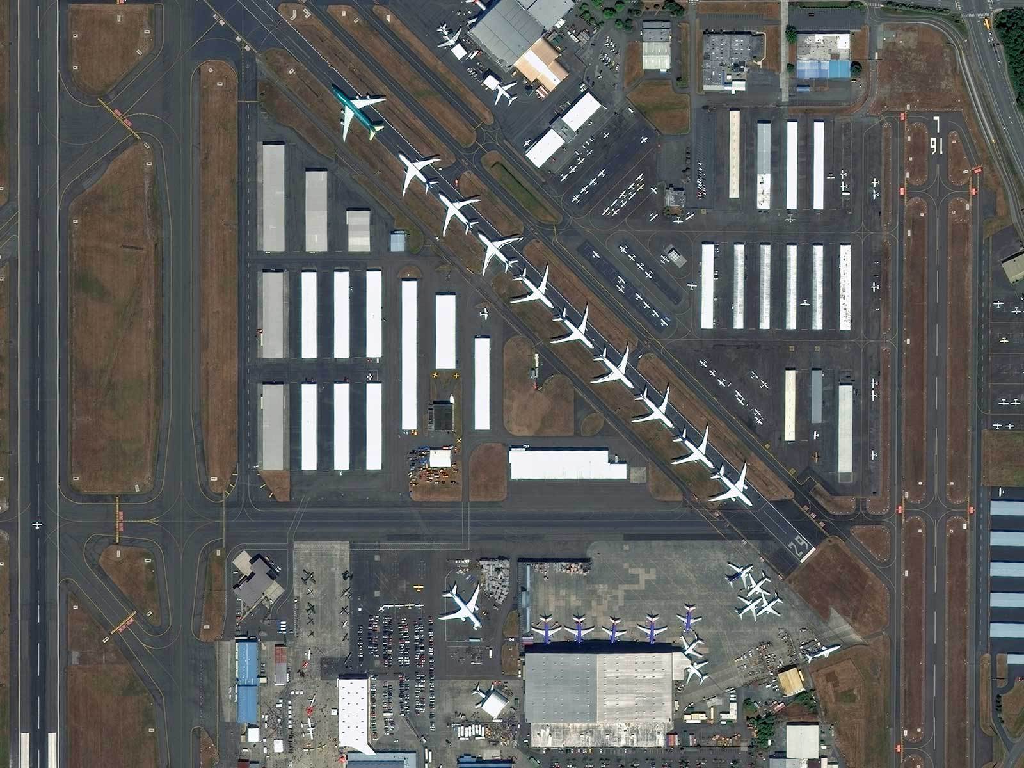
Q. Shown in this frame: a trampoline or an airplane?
airplane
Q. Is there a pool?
No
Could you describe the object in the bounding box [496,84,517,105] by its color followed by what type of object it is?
white airplane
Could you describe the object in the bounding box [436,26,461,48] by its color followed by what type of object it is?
white airplane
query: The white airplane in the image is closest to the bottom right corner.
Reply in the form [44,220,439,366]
[809,646,841,664]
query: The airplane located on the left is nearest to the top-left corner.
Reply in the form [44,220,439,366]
[332,86,386,141]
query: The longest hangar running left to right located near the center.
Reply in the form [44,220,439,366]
[509,451,627,479]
